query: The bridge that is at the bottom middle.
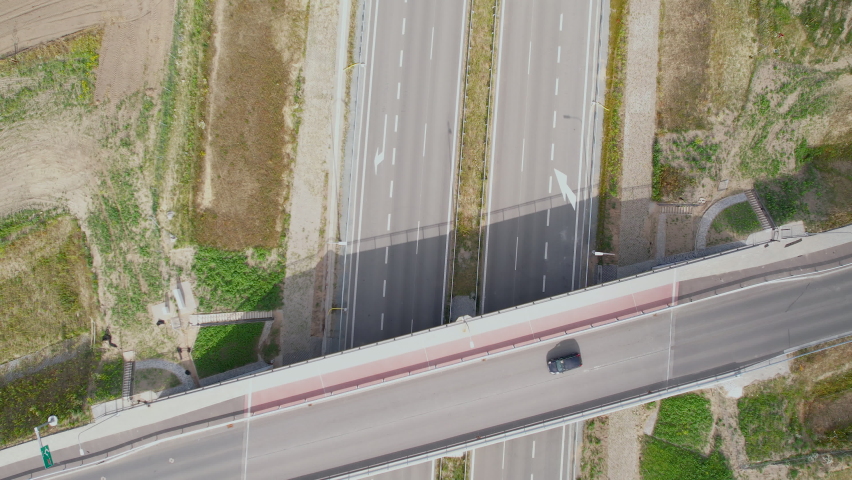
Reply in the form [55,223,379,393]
[240,266,678,480]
